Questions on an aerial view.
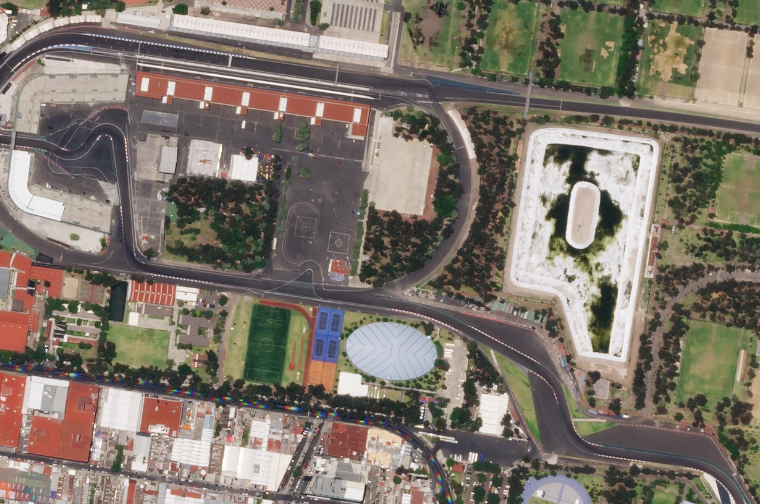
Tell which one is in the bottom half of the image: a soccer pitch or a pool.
soccer pitch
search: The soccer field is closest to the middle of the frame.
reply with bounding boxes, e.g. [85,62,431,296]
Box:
[243,305,291,385]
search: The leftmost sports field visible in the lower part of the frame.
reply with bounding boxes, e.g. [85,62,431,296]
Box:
[110,324,170,370]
